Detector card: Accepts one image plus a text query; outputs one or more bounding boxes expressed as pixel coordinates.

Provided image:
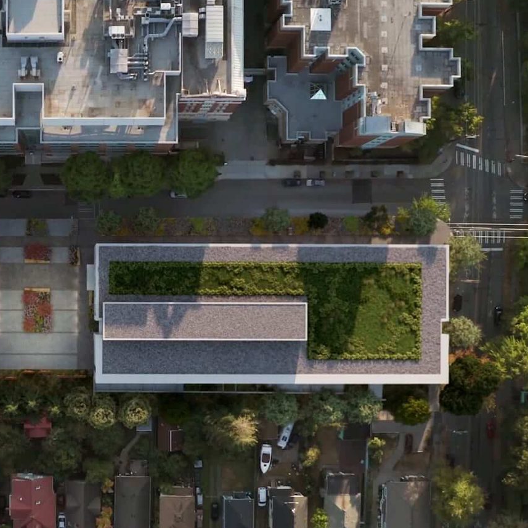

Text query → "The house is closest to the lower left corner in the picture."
[9,470,56,528]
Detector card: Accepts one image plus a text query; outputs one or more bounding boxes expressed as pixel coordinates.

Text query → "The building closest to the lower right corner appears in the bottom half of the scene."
[375,473,429,528]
